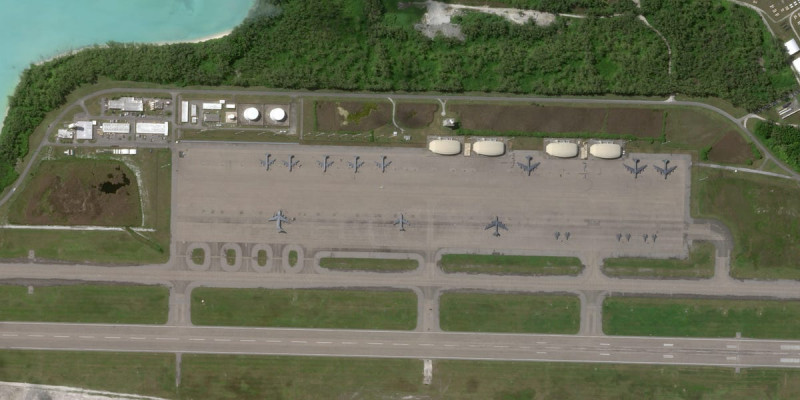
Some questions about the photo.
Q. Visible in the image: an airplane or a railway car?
airplane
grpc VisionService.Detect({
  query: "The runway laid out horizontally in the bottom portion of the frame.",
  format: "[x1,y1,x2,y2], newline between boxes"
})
[0,322,800,367]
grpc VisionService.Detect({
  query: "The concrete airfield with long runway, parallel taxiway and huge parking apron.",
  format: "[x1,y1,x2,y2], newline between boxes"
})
[0,141,800,387]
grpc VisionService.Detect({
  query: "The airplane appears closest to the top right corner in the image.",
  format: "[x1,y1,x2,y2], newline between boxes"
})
[655,159,677,180]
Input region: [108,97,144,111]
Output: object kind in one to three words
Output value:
building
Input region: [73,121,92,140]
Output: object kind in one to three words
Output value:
building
